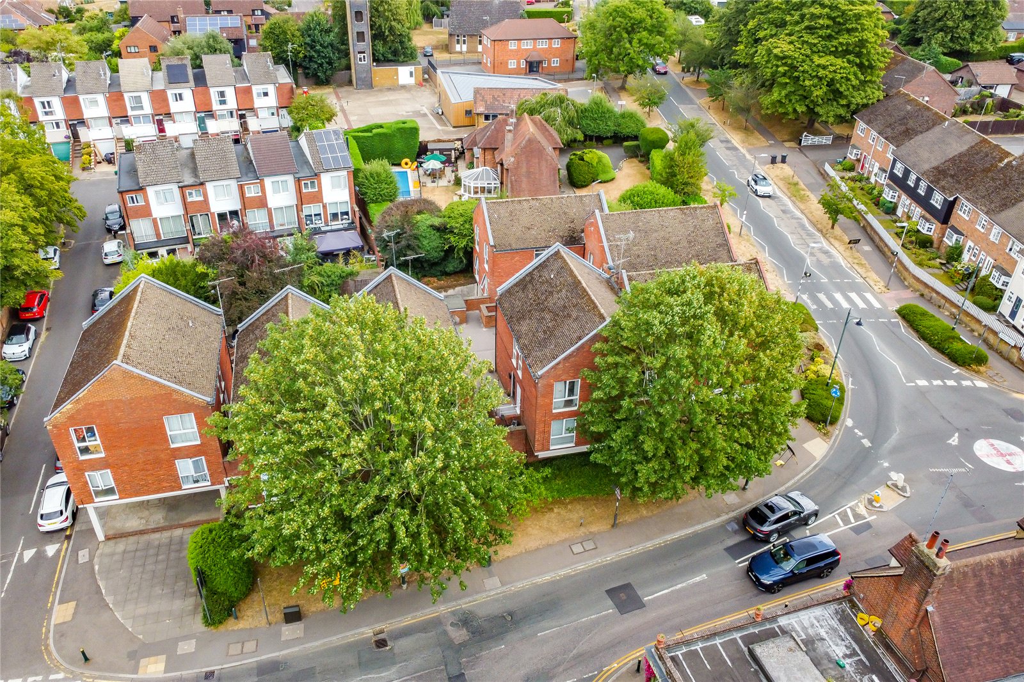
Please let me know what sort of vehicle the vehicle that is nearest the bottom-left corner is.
car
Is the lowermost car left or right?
right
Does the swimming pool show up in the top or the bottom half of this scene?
top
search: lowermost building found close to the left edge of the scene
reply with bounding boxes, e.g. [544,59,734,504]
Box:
[41,276,237,542]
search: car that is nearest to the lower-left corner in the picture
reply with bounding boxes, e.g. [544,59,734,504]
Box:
[28,472,76,540]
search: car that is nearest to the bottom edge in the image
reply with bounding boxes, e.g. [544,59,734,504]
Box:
[742,531,847,594]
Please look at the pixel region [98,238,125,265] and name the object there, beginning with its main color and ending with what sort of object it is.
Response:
white car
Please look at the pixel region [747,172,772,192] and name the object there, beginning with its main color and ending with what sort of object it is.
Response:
white car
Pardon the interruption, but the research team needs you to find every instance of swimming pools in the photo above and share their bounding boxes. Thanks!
[387,166,413,200]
